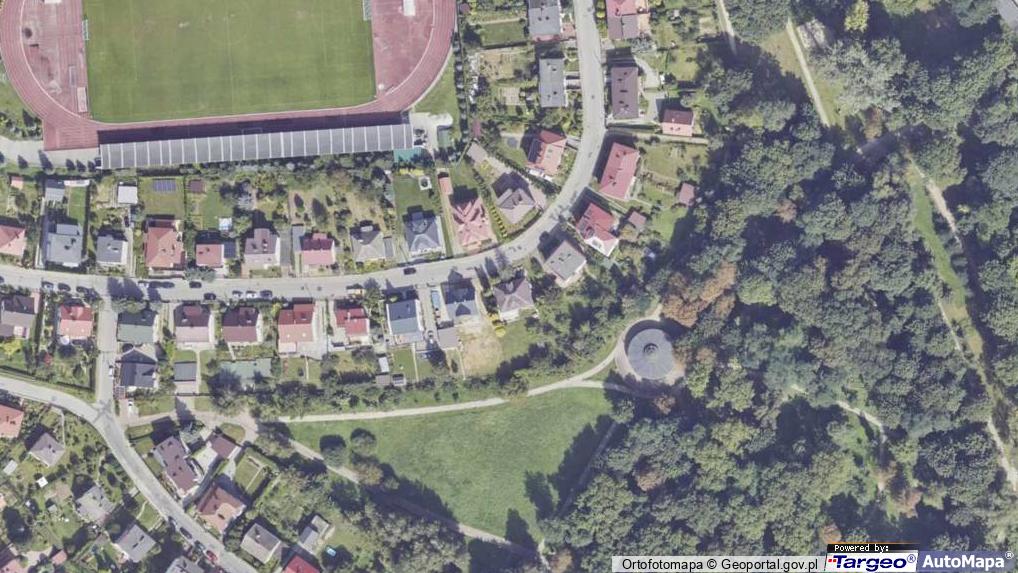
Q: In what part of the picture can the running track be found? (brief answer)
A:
top left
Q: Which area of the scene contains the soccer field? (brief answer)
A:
top left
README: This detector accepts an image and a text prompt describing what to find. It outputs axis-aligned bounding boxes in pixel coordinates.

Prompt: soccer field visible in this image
[83,0,379,122]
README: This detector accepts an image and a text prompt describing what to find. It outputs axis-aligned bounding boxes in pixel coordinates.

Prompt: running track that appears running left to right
[0,0,459,151]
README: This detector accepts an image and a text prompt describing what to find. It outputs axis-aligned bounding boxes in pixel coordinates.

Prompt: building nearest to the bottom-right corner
[627,329,675,377]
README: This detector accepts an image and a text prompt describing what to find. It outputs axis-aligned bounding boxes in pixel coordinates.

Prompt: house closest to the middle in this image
[494,280,532,321]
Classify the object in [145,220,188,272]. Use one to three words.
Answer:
house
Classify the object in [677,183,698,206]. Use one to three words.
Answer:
shed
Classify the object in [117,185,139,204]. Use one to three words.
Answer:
building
